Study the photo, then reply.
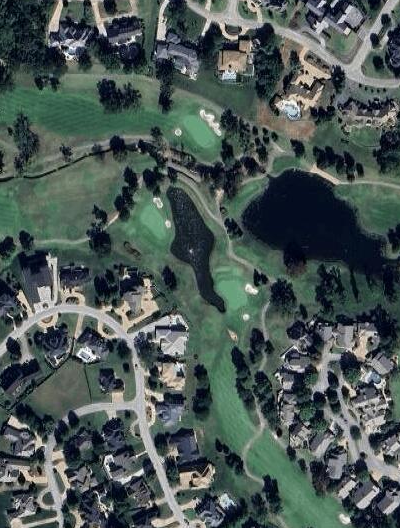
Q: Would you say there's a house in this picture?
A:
Yes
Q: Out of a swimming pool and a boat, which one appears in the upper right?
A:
swimming pool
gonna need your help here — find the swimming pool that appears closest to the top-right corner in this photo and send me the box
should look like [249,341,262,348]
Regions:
[280,99,302,122]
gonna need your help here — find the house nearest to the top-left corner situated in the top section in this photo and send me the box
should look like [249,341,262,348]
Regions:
[50,15,93,50]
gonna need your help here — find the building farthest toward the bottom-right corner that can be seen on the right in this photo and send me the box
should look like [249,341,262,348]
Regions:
[375,487,400,520]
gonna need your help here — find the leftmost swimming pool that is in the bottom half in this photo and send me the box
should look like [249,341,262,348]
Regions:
[78,348,97,365]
